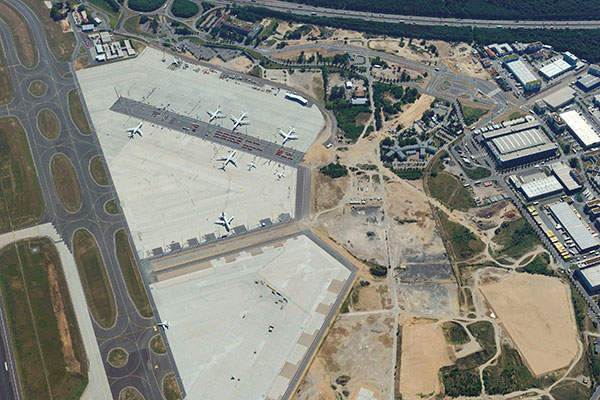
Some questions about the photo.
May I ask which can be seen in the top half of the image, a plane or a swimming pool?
plane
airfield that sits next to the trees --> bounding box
[0,0,358,400]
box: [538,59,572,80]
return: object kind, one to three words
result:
building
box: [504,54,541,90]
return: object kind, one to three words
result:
building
